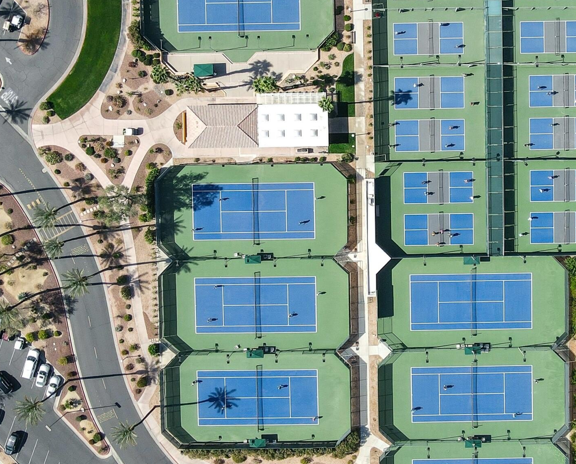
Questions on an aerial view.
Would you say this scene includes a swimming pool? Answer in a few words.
No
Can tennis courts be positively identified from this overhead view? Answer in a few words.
Yes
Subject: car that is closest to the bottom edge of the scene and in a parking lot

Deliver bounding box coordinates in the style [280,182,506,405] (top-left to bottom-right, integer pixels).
[5,431,20,456]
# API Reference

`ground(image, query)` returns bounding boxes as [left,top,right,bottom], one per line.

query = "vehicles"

[14,338,29,350]
[11,15,25,26]
[19,351,40,380]
[1,330,13,343]
[298,148,309,153]
[46,374,62,399]
[35,363,51,388]
[2,21,17,31]
[0,371,14,396]
[126,128,138,134]
[5,431,20,456]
